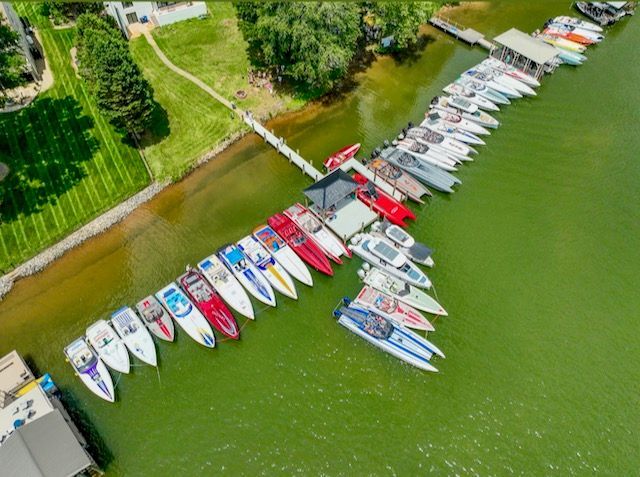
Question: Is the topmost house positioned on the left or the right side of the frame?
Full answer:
It is on the left.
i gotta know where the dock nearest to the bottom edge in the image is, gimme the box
[288,158,405,243]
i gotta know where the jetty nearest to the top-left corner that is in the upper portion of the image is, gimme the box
[244,109,329,183]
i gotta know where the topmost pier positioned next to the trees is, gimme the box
[429,15,494,49]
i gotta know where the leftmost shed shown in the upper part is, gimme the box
[4,0,44,89]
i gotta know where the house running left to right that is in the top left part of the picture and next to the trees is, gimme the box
[102,0,188,36]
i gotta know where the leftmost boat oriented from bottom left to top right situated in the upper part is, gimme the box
[322,143,360,173]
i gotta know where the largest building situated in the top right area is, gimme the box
[488,29,560,81]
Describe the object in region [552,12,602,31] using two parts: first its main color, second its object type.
white boat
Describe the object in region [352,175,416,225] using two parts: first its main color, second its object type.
red boat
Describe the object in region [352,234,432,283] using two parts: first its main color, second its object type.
white boat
